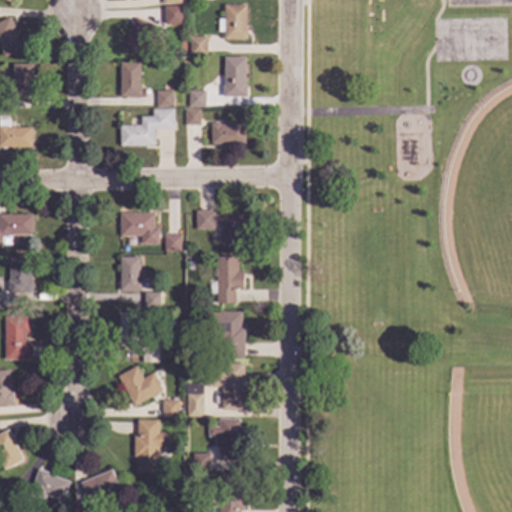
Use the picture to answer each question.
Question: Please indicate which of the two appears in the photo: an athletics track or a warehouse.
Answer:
athletics track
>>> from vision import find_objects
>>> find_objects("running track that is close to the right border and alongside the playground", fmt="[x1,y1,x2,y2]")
[439,82,512,310]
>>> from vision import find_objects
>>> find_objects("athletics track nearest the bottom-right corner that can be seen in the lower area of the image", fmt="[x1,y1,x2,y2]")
[449,366,512,512]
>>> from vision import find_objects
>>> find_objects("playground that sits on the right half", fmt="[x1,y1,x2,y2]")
[396,112,434,182]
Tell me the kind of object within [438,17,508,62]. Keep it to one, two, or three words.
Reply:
basketball court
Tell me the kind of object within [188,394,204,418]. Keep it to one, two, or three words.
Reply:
building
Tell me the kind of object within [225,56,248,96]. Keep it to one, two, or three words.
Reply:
house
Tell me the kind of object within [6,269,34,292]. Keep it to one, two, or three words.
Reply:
house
